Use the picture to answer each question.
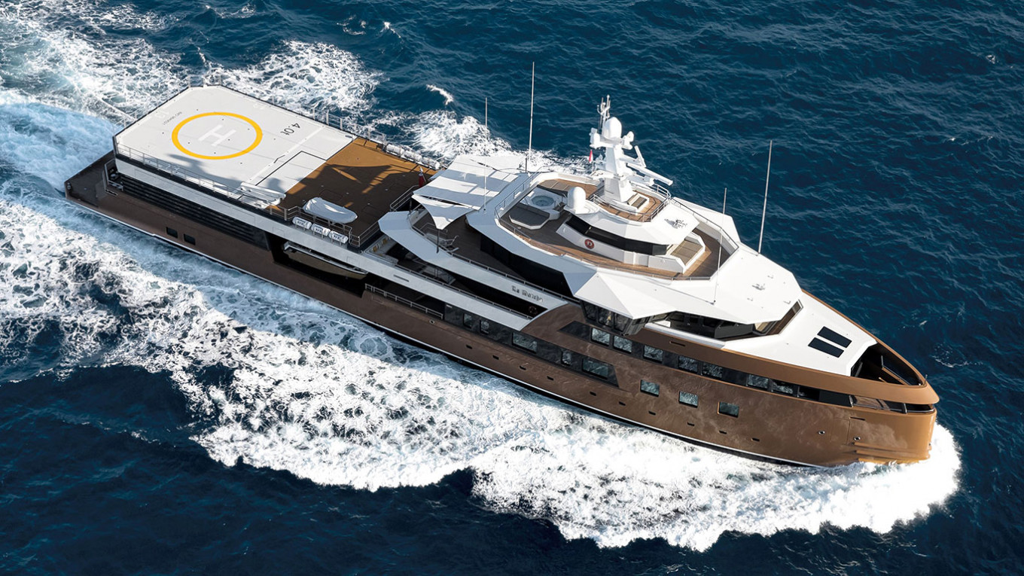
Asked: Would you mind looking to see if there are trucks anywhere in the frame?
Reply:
No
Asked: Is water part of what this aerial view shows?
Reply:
Yes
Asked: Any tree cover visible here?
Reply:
No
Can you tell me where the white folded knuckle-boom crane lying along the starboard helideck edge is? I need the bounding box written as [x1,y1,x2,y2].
[236,179,285,208]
